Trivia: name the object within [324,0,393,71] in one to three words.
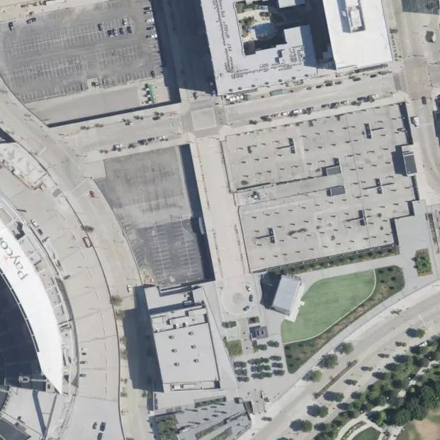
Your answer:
building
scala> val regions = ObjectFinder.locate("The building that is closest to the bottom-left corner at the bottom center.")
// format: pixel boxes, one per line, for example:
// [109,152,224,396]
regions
[146,285,221,397]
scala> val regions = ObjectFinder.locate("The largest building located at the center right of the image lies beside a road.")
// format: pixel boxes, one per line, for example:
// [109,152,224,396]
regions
[222,103,432,274]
